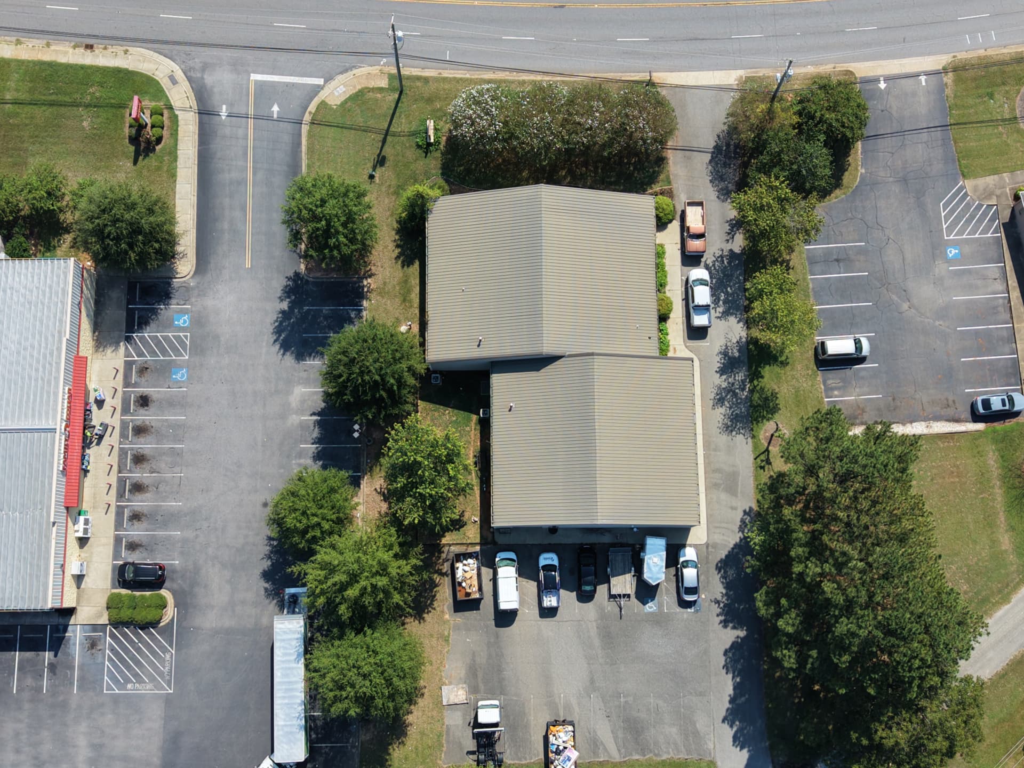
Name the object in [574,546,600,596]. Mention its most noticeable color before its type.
black car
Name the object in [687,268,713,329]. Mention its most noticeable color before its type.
white truck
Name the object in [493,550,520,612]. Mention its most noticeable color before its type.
white vehicle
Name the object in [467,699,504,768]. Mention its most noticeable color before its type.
white truck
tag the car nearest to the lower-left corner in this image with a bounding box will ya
[117,561,169,588]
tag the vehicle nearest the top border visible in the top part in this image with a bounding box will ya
[684,200,709,256]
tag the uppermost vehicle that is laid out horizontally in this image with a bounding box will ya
[814,334,871,361]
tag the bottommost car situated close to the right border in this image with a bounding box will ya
[970,391,1024,419]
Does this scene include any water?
No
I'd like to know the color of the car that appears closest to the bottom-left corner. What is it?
black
